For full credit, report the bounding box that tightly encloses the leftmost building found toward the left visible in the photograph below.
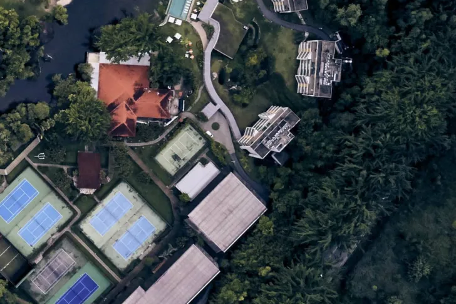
[75,147,100,193]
